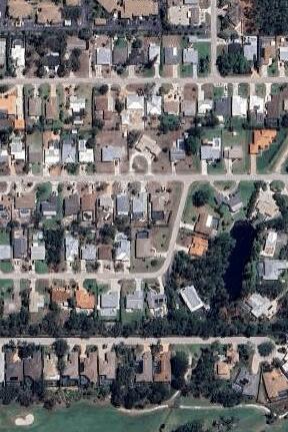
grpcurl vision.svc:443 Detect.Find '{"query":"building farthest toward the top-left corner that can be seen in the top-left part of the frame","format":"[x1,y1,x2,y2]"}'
[7,0,32,19]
